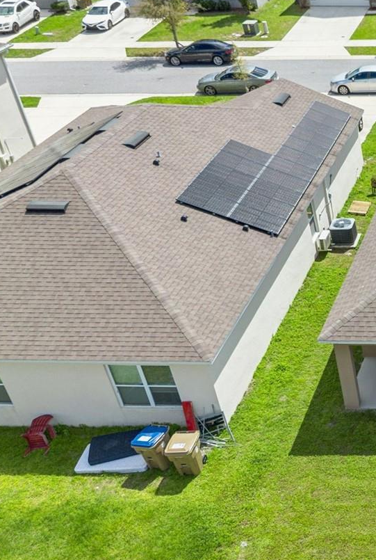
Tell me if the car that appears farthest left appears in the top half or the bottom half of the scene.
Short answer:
top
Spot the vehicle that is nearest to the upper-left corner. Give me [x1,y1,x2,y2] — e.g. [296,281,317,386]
[0,0,38,29]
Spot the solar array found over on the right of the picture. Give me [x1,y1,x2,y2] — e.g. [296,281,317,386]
[176,99,353,232]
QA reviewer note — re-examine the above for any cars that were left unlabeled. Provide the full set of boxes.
[331,63,376,91]
[0,0,38,29]
[75,0,124,28]
[165,41,242,69]
[201,65,284,92]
